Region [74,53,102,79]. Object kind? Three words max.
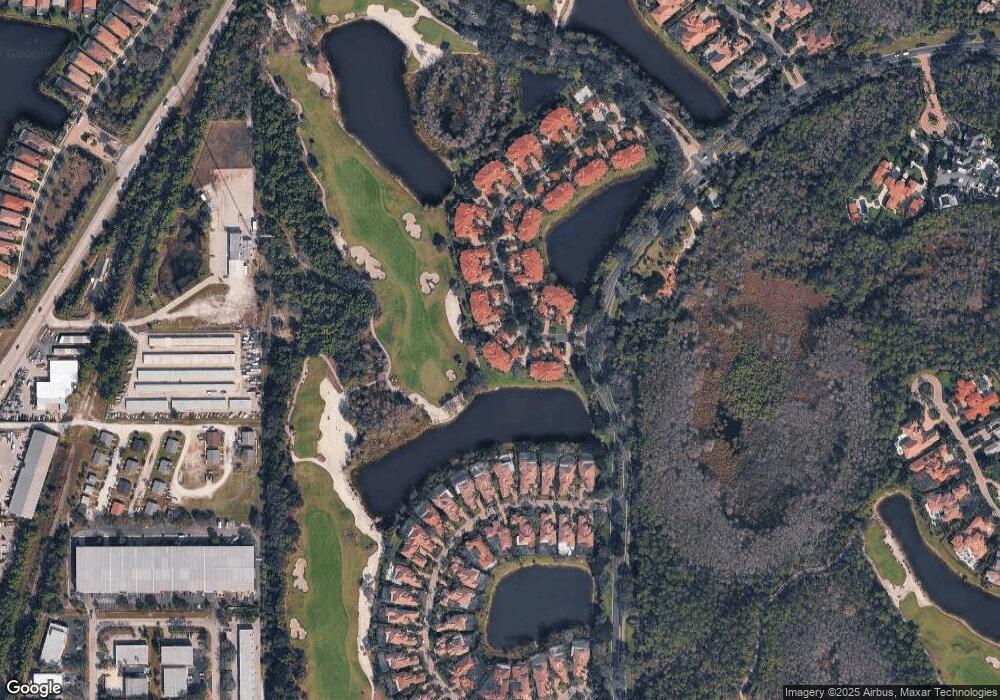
house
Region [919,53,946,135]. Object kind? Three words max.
roundabout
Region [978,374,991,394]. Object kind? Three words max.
swimming pool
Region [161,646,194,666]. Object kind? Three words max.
building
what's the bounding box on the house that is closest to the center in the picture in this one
[479,333,524,375]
